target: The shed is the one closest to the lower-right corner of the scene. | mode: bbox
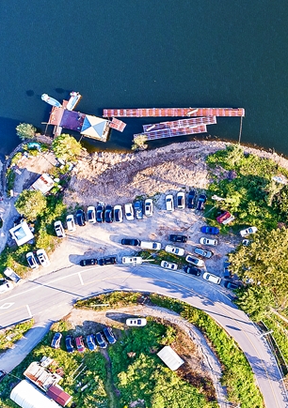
[156,346,187,371]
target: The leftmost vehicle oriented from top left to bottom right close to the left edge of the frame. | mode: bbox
[0,267,20,284]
